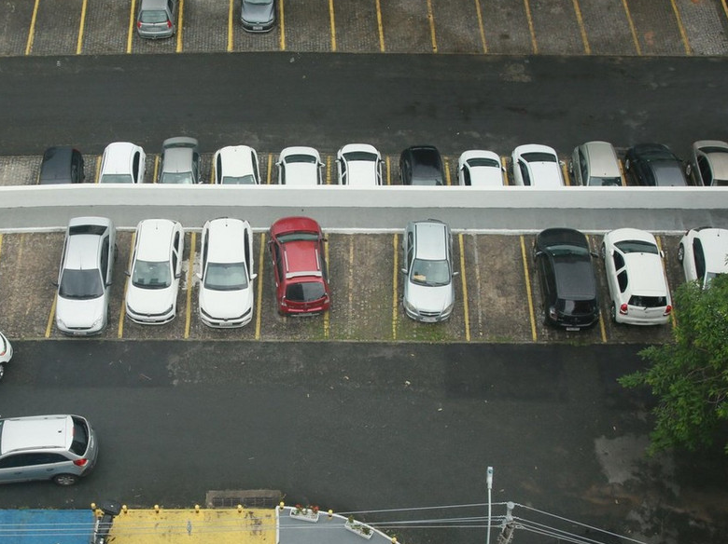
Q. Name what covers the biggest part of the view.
paved ground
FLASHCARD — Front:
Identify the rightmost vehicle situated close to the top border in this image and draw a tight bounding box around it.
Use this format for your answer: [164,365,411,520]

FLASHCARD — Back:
[238,0,276,30]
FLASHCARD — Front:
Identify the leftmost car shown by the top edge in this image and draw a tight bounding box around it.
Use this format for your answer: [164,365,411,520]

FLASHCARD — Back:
[136,0,175,37]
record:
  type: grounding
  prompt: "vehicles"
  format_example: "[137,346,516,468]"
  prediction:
[238,0,276,30]
[629,147,687,186]
[534,228,600,326]
[334,143,386,185]
[398,147,446,185]
[456,148,508,185]
[270,219,330,315]
[400,222,460,323]
[51,219,114,331]
[606,231,668,324]
[97,142,145,185]
[569,143,623,186]
[685,143,728,186]
[195,219,257,326]
[274,146,326,185]
[121,218,183,324]
[510,143,565,185]
[136,0,175,37]
[0,412,94,482]
[36,148,84,186]
[216,142,260,185]
[156,139,200,185]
